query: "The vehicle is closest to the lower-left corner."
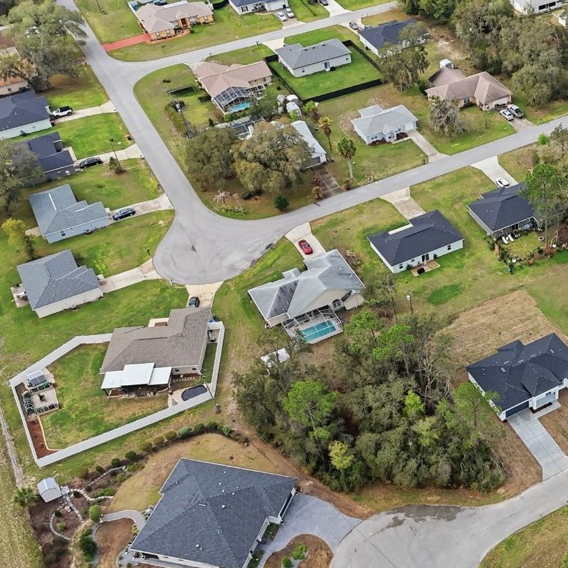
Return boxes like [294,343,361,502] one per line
[187,293,201,308]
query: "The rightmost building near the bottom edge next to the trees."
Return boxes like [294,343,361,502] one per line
[128,456,301,568]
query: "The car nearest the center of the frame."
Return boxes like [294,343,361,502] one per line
[297,238,315,254]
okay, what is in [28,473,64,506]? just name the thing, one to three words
shed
